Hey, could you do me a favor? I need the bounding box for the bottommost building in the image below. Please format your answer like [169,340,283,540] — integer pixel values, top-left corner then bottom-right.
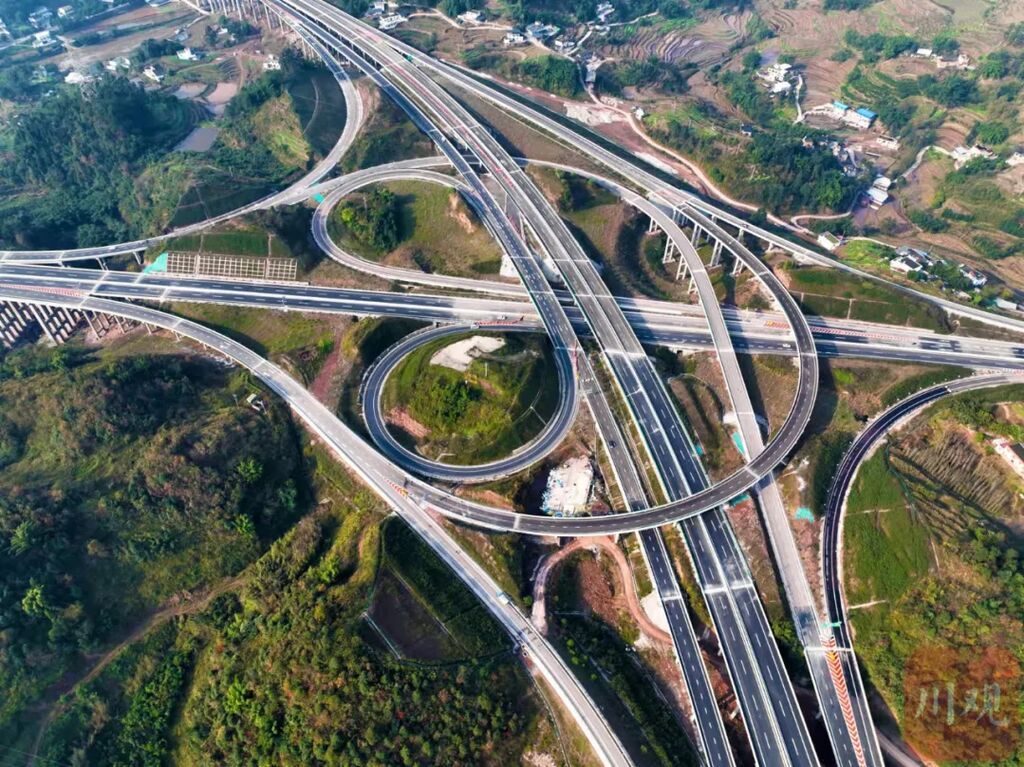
[994,434,1024,464]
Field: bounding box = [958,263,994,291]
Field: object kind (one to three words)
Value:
house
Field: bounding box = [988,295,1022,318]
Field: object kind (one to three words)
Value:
house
